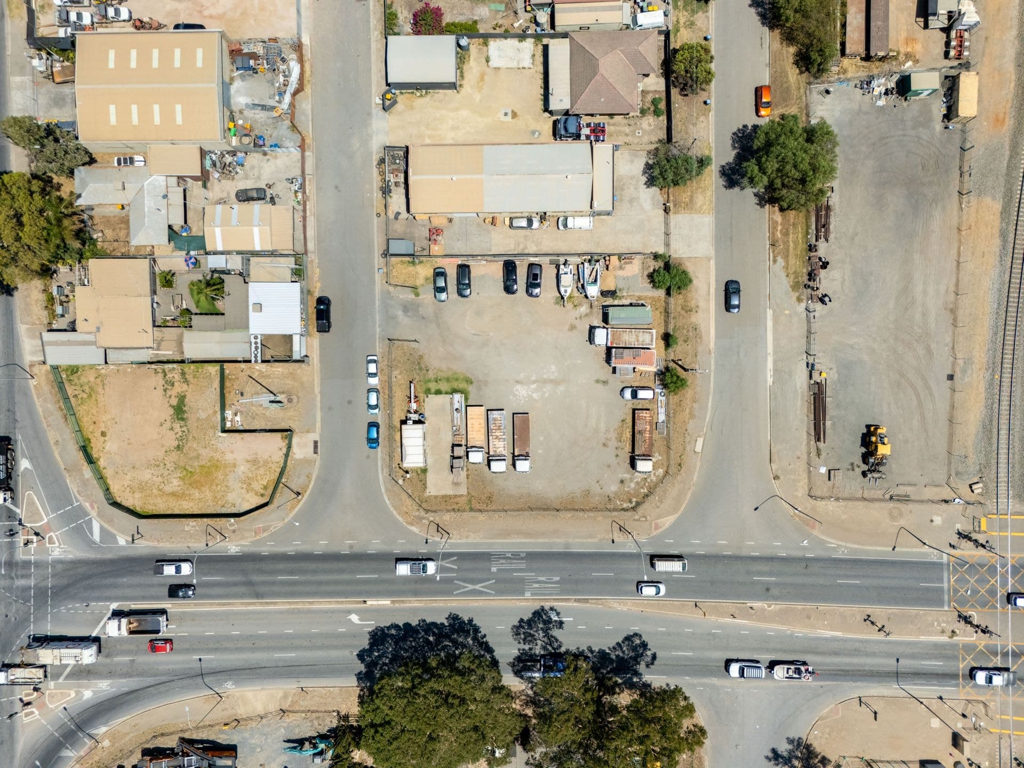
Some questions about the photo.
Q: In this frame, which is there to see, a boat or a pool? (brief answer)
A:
boat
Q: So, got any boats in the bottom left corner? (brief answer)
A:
No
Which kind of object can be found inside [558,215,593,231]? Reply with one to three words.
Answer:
vehicle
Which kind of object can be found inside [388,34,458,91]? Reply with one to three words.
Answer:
shed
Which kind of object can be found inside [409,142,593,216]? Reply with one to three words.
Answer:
building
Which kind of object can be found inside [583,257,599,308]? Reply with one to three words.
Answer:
boat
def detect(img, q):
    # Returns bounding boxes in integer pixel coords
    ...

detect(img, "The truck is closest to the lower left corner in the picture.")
[0,665,49,687]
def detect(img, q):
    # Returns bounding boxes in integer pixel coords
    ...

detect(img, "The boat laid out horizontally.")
[766,661,818,681]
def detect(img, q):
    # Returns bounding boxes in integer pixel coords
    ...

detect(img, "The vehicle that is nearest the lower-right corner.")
[969,667,1012,686]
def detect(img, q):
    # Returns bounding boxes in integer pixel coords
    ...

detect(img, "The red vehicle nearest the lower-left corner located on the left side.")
[149,638,175,654]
